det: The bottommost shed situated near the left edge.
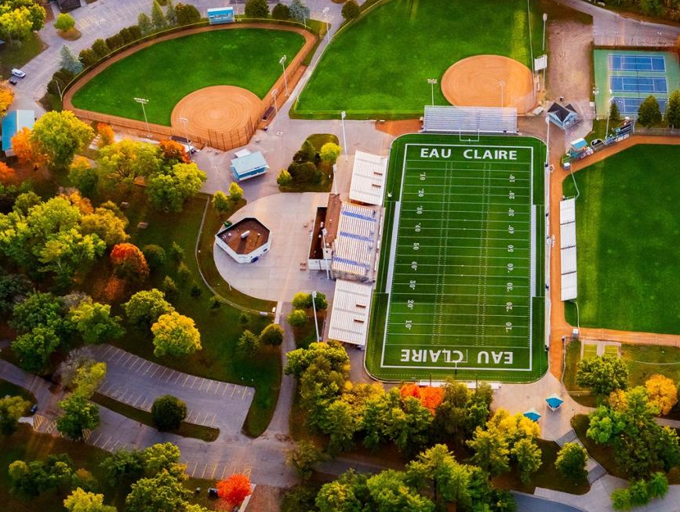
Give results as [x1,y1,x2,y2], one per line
[1,109,33,159]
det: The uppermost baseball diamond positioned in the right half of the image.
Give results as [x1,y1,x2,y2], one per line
[287,0,546,120]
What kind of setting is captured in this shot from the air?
sports ground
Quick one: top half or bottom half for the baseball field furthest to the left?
top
